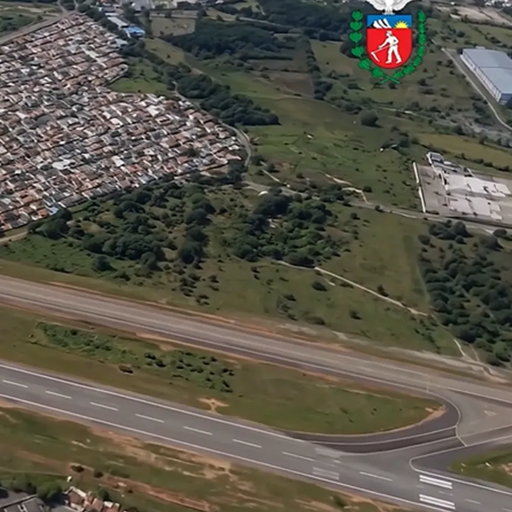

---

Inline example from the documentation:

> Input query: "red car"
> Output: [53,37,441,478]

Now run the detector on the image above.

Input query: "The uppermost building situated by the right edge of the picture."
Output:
[460,49,512,102]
